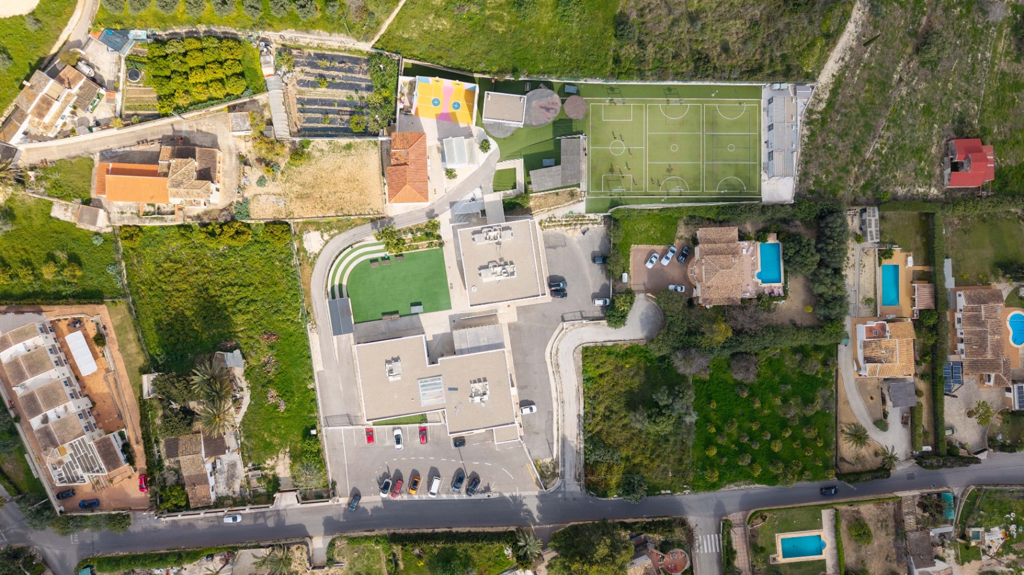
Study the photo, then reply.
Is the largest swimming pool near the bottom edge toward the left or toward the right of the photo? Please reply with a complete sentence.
The largest swimming pool near the bottom edge is on the right side of the image.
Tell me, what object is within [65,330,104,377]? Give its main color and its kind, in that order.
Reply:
white tent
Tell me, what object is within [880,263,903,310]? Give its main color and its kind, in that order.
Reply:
blue swimming pool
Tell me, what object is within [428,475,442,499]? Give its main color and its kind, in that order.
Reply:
white vehicle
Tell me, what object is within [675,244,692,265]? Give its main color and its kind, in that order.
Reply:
black car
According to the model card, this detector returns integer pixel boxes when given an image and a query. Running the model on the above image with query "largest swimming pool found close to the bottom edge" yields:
[770,530,828,564]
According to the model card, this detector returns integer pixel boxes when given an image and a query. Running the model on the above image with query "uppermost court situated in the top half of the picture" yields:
[412,75,479,128]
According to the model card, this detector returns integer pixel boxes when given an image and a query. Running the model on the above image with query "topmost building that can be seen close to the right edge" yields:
[938,138,995,194]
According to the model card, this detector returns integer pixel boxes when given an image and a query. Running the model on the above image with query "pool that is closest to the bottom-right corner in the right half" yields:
[969,528,984,546]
